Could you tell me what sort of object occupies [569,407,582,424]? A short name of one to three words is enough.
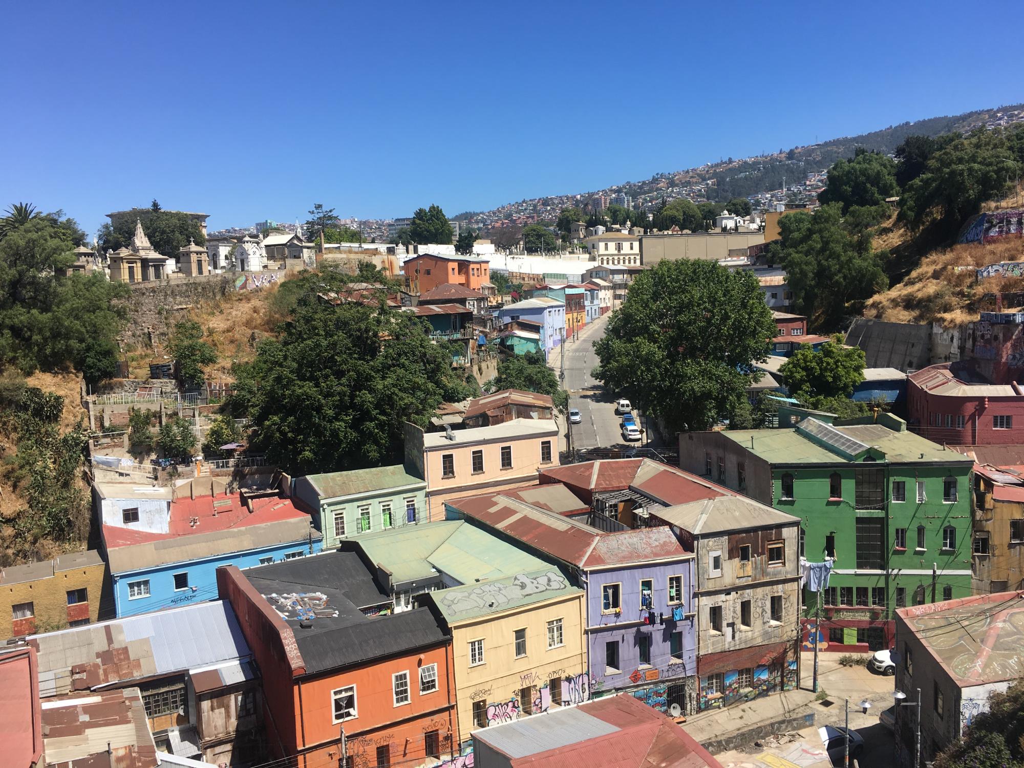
vehicle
